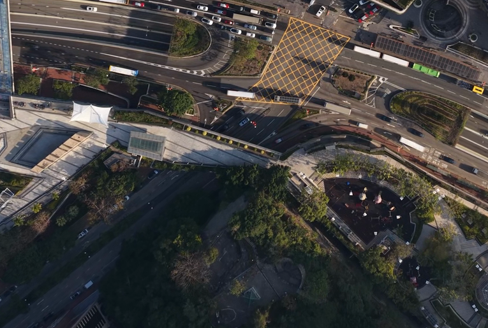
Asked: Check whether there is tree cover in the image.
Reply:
Yes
